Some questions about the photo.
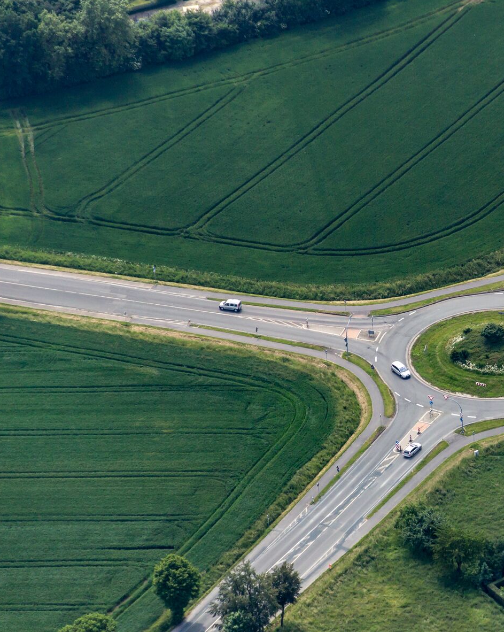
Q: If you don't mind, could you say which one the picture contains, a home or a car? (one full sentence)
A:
Visible in the photo is a car.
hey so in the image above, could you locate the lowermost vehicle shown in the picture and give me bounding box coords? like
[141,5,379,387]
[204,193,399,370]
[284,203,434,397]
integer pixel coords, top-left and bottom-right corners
[402,442,423,460]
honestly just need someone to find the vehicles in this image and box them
[219,301,242,313]
[402,442,423,460]
[391,361,410,379]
